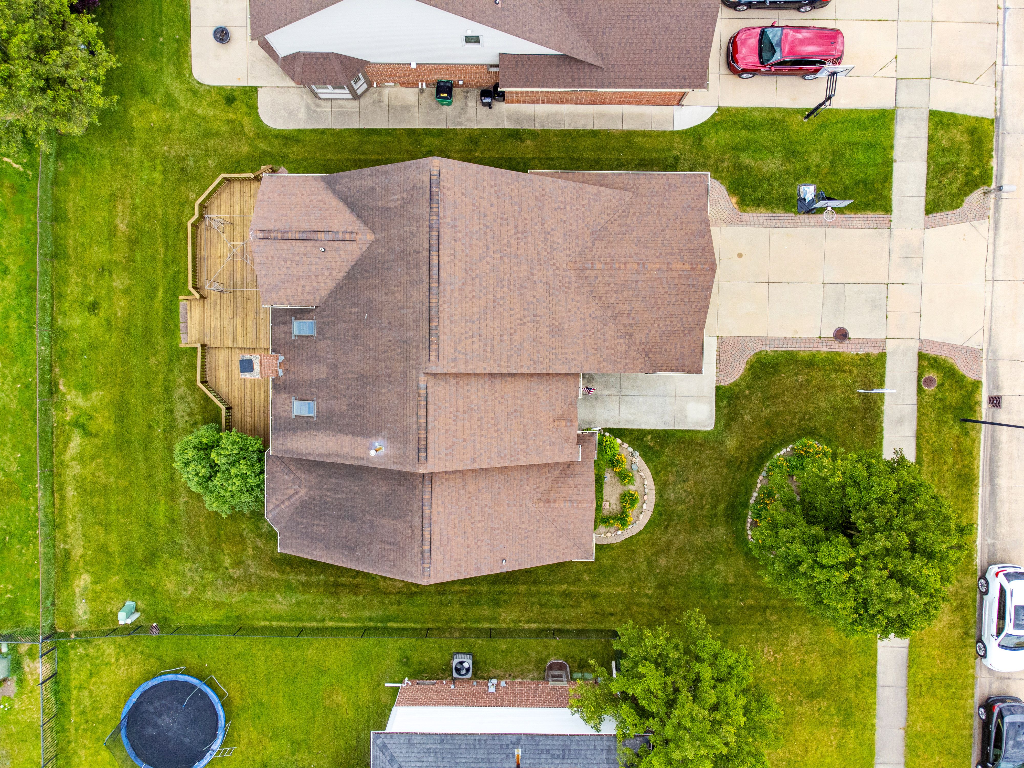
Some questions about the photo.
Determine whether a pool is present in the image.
No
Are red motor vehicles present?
Yes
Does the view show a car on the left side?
No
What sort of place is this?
residential area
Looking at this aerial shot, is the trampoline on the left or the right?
left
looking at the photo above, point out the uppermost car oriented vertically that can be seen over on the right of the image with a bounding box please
[969,557,1024,668]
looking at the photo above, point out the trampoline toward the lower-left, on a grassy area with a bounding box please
[103,667,236,768]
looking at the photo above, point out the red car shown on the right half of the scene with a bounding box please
[727,11,851,74]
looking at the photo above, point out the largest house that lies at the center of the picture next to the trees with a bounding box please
[238,157,717,584]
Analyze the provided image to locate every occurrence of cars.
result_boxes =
[969,685,1024,768]
[727,11,851,74]
[969,557,1024,668]
[724,0,838,12]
